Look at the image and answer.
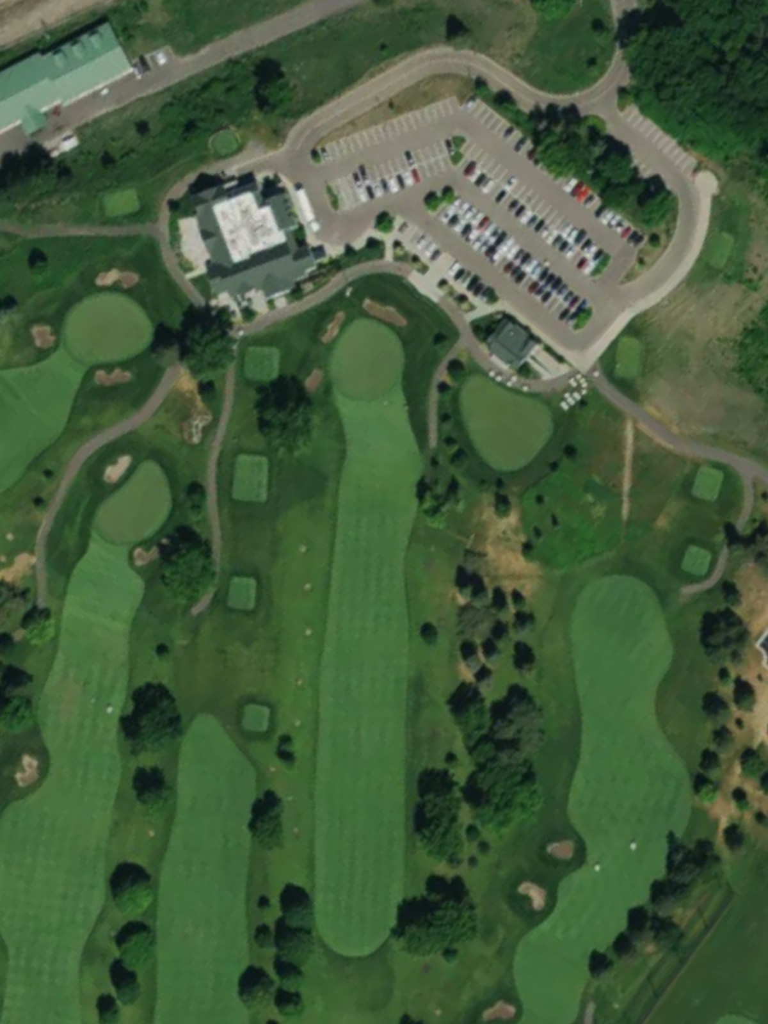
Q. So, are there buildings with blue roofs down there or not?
No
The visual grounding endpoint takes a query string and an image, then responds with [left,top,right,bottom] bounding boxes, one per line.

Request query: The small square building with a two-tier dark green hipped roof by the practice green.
[487,316,539,369]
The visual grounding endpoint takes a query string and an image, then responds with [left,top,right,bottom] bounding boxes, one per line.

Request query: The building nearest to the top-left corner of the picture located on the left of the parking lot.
[0,23,133,135]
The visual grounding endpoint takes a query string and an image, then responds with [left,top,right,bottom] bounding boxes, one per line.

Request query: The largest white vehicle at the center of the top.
[294,190,320,228]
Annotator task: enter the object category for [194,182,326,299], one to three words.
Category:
building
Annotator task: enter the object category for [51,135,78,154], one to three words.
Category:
vehicle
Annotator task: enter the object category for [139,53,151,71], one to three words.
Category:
vehicle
